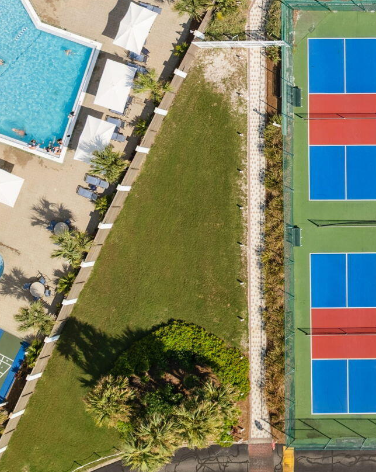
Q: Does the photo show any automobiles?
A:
No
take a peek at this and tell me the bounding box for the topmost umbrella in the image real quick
[113,2,159,55]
